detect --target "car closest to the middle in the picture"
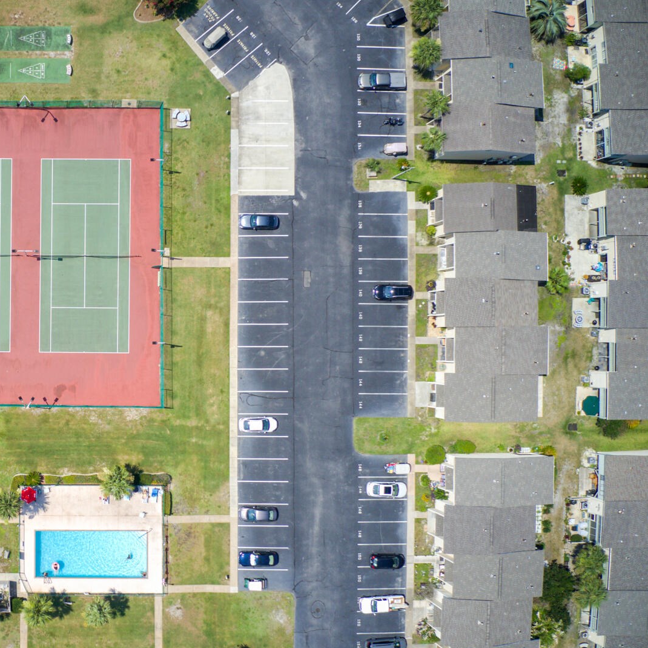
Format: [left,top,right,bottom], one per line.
[371,283,415,302]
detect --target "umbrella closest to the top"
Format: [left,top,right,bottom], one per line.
[578,396,598,414]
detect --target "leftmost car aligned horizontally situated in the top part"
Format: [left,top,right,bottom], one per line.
[238,212,280,232]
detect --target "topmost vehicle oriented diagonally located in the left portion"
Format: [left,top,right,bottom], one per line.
[200,23,233,53]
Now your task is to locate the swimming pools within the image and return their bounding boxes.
[20,485,166,594]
